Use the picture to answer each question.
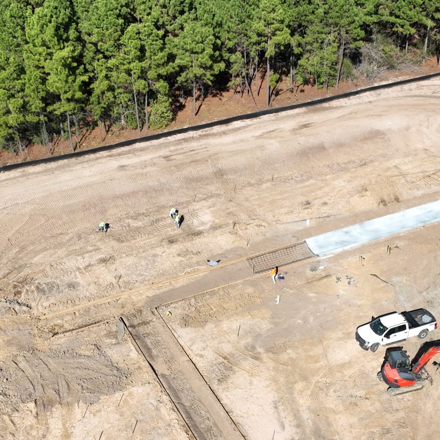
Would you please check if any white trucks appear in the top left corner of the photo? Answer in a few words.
No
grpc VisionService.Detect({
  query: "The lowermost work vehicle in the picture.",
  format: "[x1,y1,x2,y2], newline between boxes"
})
[380,344,440,395]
